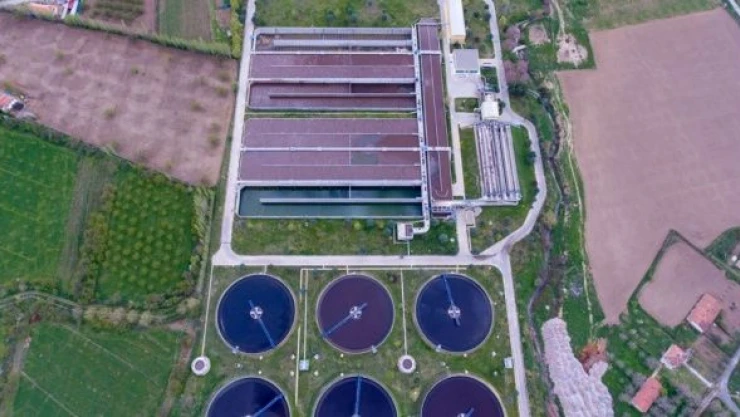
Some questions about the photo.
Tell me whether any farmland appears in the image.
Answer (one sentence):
Yes, the picture does contain farmland.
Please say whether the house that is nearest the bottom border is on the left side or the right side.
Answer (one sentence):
You can find the house that is nearest the bottom border on the right side of the picture.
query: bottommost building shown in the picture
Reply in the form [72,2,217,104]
[632,377,664,412]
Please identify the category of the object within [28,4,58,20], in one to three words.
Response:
house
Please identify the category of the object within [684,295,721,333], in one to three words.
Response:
house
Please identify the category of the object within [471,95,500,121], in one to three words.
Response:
building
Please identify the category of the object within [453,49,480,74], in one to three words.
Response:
building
